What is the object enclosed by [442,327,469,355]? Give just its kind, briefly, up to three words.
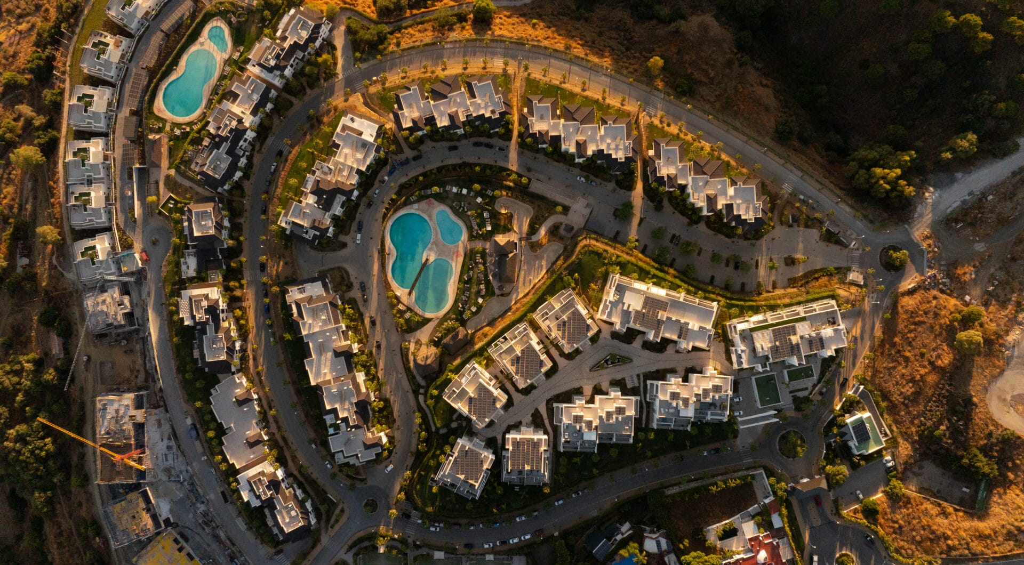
shed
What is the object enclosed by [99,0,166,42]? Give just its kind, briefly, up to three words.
house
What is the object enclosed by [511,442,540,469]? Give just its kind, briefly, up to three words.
solar array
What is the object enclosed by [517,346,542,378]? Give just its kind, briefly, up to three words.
solar array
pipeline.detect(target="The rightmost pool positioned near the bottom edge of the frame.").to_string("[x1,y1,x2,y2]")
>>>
[720,528,738,541]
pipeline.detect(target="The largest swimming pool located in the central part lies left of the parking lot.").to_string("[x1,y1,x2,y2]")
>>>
[385,198,467,318]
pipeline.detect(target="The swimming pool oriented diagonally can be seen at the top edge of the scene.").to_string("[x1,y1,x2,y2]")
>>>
[153,17,232,123]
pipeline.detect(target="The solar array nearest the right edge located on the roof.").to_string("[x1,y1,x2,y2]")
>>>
[853,423,871,445]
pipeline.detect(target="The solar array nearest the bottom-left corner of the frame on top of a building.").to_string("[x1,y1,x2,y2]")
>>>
[457,451,482,482]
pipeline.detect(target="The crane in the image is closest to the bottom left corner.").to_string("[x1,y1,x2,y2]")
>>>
[35,418,149,472]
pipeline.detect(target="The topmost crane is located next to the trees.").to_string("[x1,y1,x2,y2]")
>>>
[62,250,138,390]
